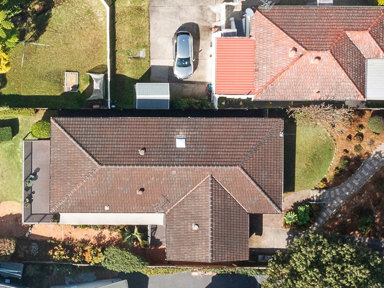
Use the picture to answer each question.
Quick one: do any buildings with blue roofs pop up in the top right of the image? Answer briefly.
No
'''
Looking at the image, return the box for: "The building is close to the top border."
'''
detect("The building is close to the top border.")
[215,6,384,102]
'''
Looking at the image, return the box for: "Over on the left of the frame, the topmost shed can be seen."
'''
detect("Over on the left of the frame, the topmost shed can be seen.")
[134,81,171,111]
